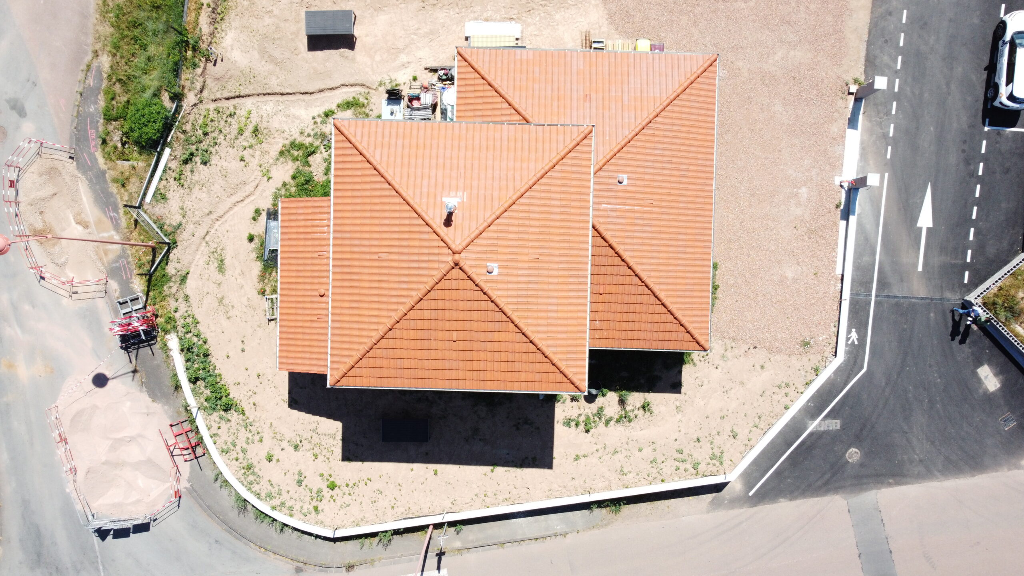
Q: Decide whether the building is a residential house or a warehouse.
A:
residential house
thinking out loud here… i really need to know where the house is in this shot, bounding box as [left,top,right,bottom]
[275,46,721,394]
